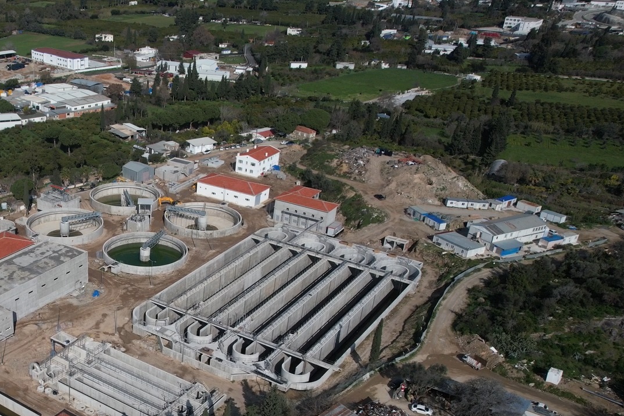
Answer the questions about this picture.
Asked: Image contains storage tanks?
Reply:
Yes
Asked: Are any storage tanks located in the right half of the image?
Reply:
No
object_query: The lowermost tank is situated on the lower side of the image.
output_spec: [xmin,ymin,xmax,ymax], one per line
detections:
[103,228,188,282]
